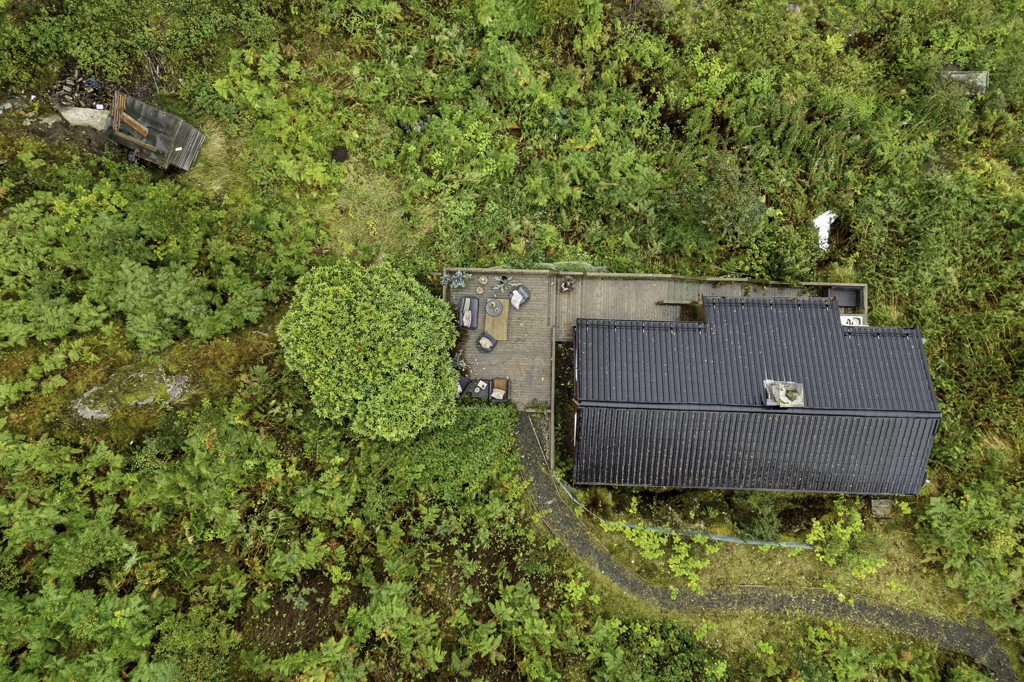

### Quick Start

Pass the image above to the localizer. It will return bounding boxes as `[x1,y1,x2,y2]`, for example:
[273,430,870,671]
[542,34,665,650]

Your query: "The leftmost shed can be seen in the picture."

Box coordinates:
[103,90,205,179]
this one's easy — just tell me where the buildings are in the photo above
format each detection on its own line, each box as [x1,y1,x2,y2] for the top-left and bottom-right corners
[569,295,945,498]
[103,90,205,179]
